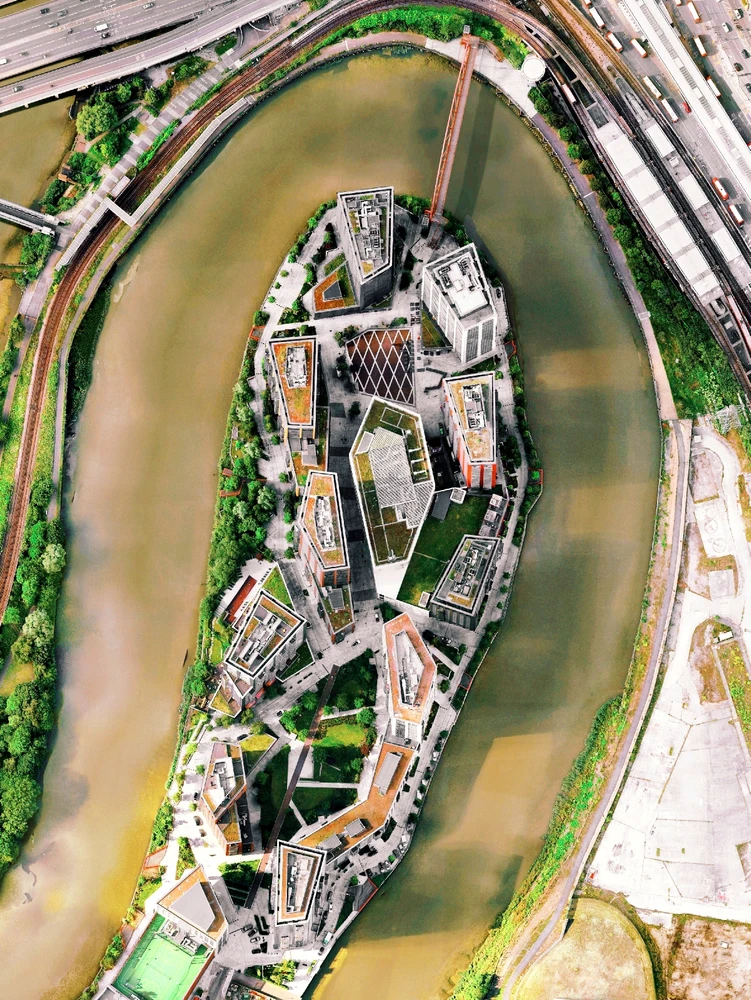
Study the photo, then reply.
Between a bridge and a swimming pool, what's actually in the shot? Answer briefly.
bridge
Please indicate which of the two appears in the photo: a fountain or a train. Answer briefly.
train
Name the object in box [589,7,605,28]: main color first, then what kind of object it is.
white vehicle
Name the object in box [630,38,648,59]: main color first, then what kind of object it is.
white vehicle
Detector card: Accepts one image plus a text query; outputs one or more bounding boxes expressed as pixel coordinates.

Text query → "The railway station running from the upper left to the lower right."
[596,82,751,312]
